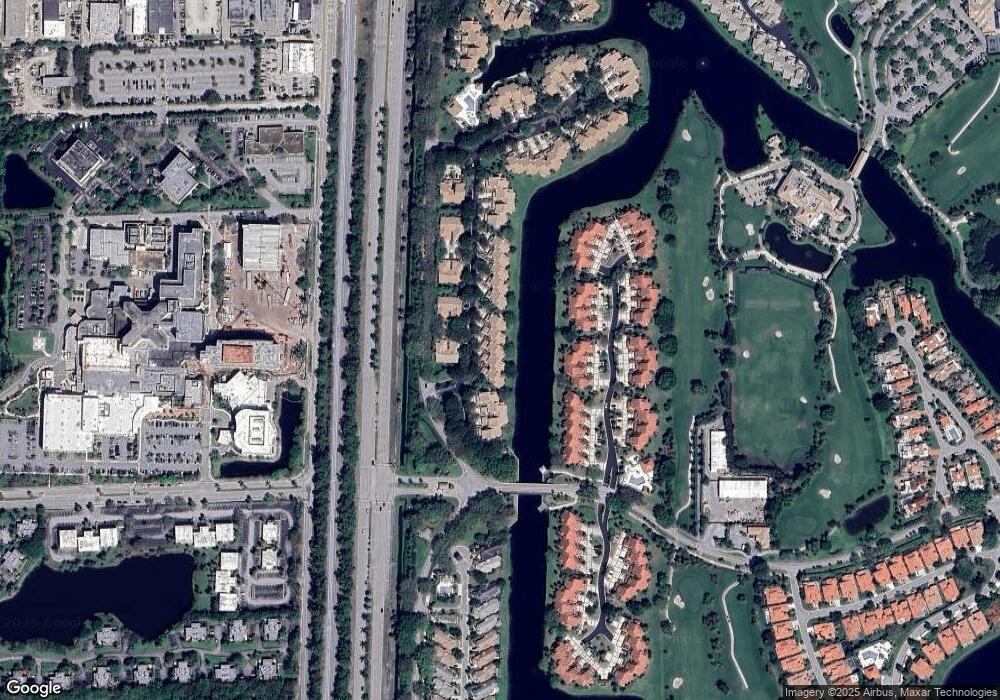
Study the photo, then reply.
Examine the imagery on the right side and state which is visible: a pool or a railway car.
pool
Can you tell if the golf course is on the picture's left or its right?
right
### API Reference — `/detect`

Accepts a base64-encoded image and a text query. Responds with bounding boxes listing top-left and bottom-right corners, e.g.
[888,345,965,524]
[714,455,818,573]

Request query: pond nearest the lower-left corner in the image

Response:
[221,394,302,478]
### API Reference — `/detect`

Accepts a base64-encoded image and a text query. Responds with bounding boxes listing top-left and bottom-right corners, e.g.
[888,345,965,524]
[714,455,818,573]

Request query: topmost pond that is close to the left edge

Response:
[4,155,54,209]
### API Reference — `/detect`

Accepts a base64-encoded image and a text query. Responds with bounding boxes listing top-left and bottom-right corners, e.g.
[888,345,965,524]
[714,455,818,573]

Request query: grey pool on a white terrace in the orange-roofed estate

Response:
[858,641,892,672]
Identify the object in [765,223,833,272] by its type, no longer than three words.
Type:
pond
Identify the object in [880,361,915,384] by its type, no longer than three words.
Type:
house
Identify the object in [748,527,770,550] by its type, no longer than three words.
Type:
building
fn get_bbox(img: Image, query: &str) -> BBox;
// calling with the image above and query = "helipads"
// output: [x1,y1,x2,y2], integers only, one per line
[32,337,46,350]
